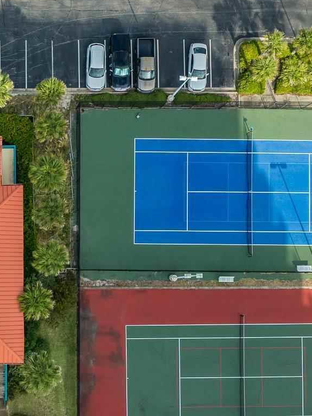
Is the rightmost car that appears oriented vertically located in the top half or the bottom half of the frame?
top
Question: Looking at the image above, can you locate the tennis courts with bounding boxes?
[82,288,312,416]
[82,107,312,281]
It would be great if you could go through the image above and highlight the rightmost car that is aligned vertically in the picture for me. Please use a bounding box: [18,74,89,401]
[187,43,209,92]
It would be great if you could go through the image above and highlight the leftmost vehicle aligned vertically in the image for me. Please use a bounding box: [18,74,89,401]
[85,43,108,91]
